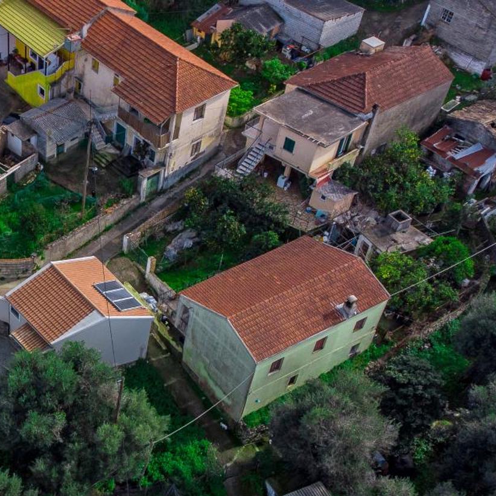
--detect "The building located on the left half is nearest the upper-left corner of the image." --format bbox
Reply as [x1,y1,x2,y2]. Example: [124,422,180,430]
[0,0,106,110]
